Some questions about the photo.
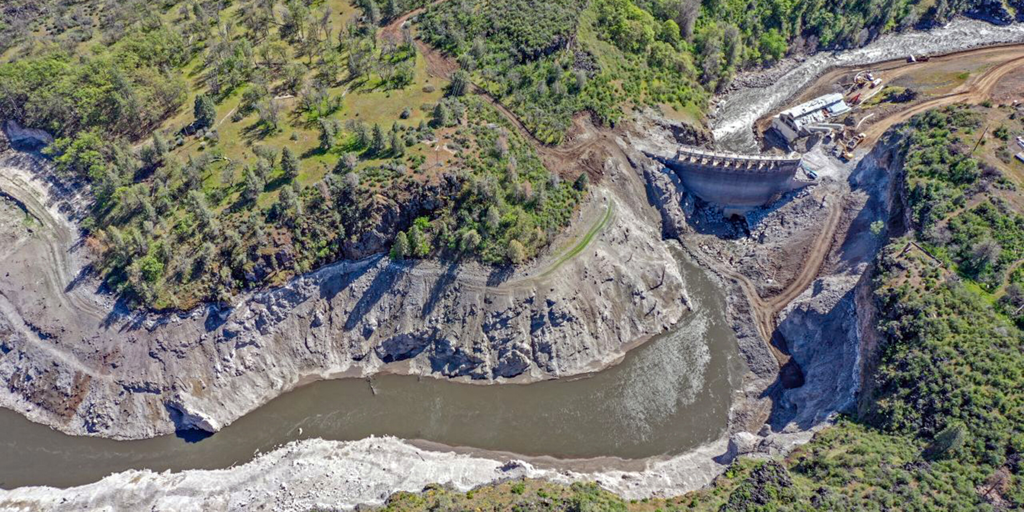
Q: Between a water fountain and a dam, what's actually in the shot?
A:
dam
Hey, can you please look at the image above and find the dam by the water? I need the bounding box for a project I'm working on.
[669,145,815,221]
